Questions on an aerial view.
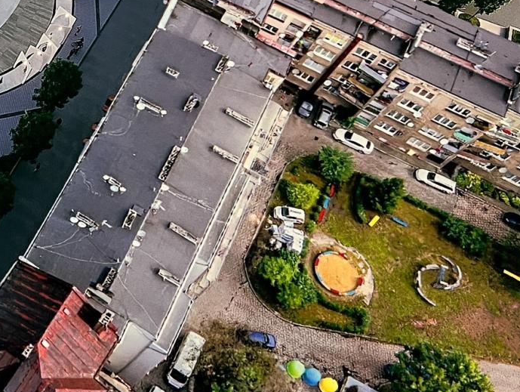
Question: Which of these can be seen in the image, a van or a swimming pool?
van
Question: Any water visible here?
No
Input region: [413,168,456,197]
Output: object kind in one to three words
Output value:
car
